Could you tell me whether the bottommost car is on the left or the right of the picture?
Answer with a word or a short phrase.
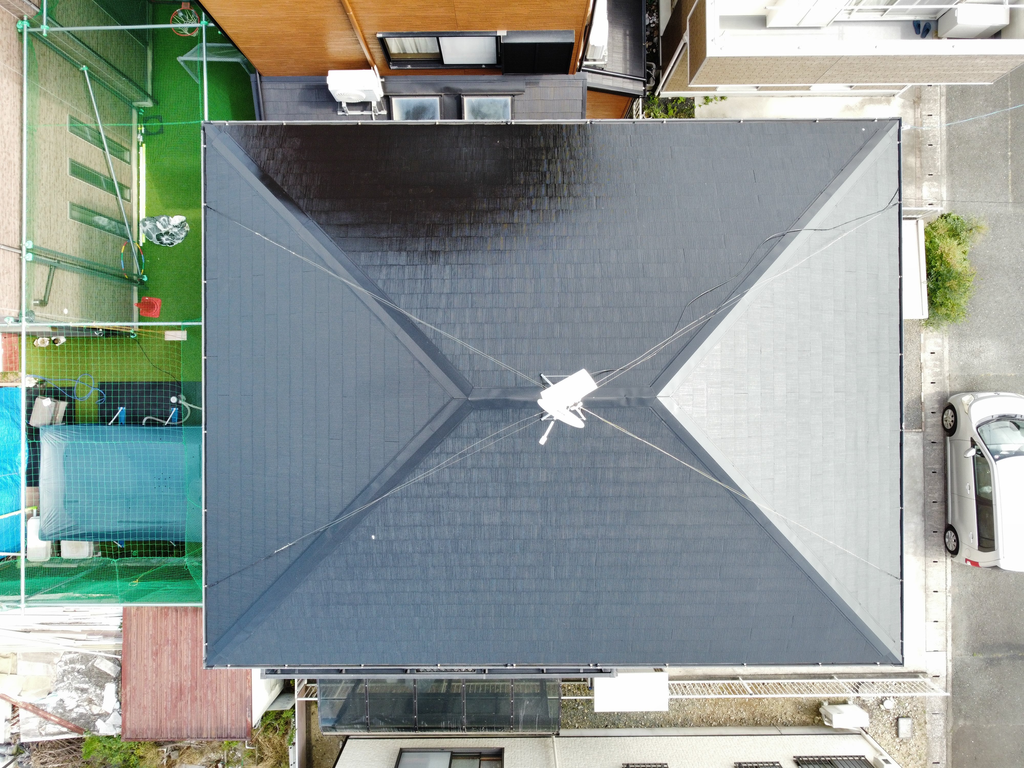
right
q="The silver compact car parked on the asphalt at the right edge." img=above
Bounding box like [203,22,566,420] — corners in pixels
[941,391,1024,572]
